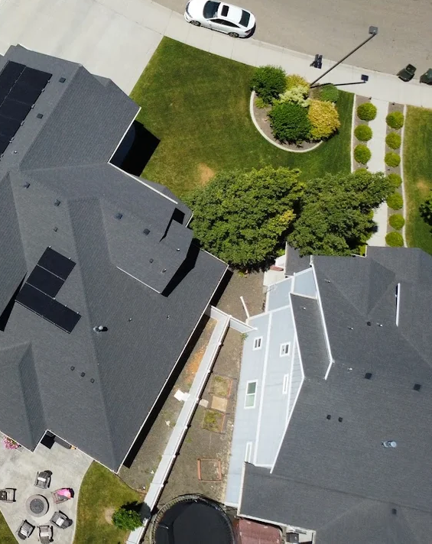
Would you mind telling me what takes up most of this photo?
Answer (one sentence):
The bulk of the photo consists of buildings.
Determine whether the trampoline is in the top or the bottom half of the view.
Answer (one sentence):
The trampoline is in the bottom half of the image.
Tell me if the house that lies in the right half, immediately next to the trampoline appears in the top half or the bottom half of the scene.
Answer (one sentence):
You can find the house that lies in the right half, immediately next to the trampoline in the bottom half.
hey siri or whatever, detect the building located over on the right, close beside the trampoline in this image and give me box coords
[224,241,432,544]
